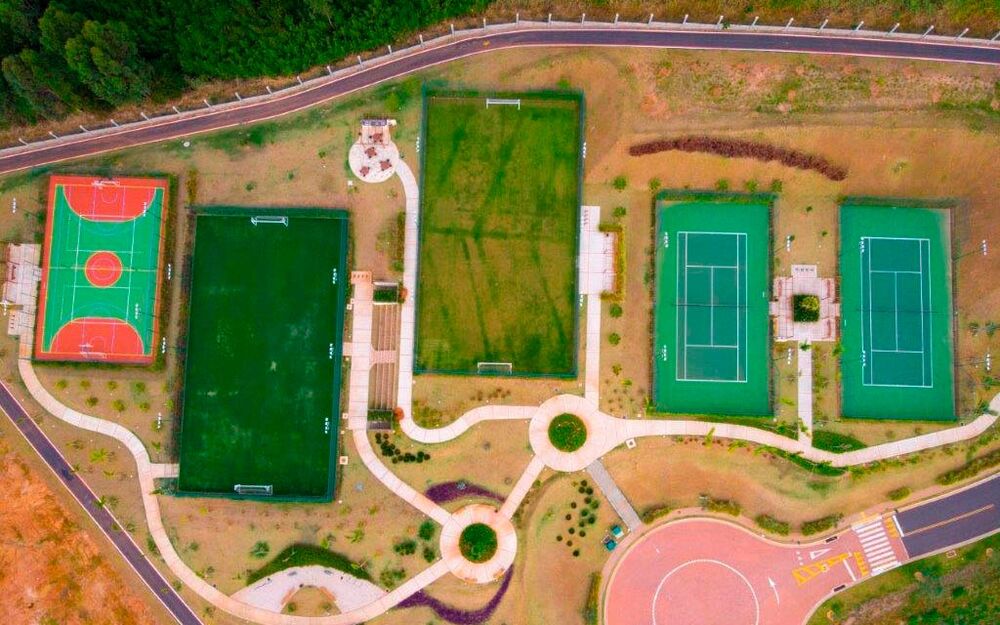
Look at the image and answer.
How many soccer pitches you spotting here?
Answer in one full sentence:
My tally gives 2 soccer pitches in this view.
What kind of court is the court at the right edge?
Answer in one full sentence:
What you see as the court at the right edge is a tennis court.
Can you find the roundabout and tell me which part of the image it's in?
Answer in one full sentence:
You can find the roundabout in the bottom right area of the picture.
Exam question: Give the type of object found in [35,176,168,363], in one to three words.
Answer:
sports court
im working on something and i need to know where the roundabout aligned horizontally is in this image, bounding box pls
[602,511,910,625]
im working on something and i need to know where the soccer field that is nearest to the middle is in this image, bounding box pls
[416,98,579,374]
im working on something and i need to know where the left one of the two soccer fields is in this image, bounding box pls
[179,215,349,495]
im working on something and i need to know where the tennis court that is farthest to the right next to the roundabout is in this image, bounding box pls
[841,206,956,420]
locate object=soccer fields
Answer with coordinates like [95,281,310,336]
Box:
[179,215,349,495]
[416,98,579,374]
